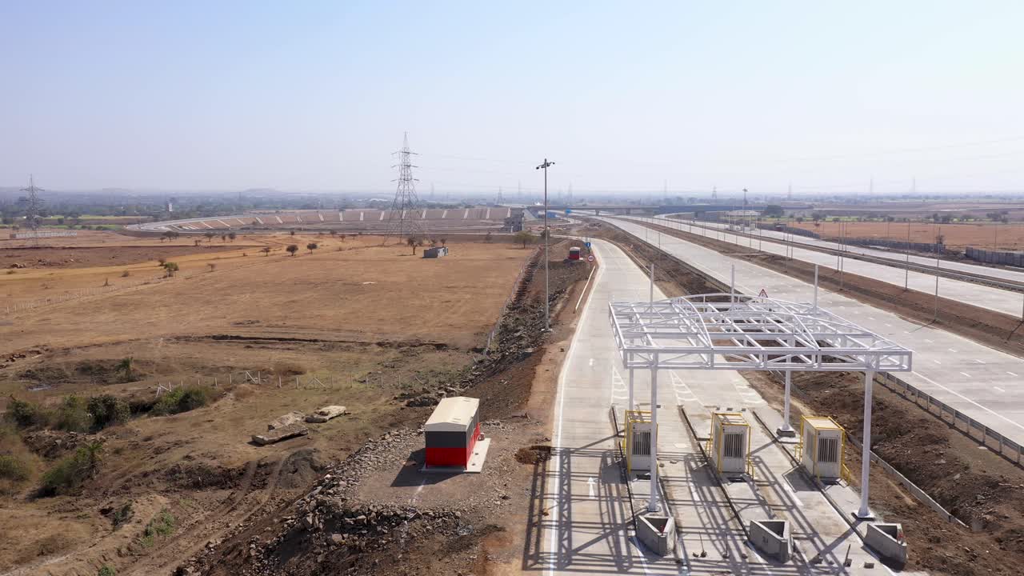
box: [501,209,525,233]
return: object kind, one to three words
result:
building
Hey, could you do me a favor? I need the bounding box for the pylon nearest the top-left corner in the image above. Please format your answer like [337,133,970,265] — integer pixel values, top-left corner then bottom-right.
[21,172,50,246]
